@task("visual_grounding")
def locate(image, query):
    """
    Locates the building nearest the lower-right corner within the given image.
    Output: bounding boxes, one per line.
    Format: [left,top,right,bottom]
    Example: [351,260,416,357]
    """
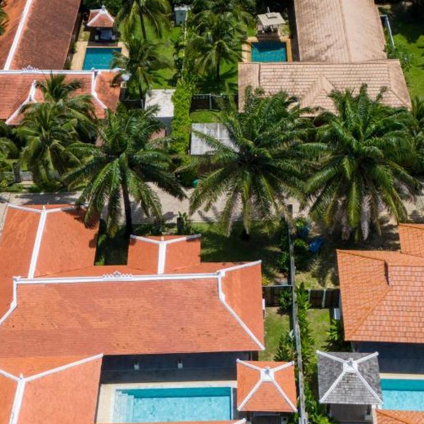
[314,348,385,423]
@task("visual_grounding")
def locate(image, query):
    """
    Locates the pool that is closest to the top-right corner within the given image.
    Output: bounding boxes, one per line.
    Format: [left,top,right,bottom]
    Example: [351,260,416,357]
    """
[247,41,291,61]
